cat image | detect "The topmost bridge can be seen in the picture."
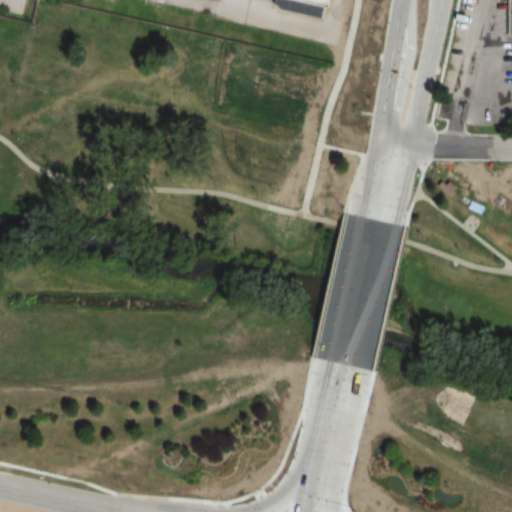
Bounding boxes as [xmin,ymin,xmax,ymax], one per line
[312,213,408,372]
